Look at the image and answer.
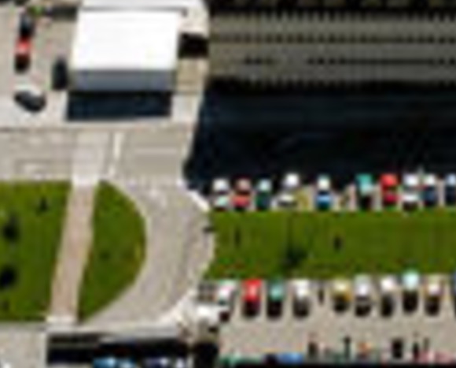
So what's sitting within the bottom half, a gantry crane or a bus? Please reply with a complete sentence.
The feature located within the bottom half is a bus.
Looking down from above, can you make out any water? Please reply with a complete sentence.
No, the picture contains no water.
